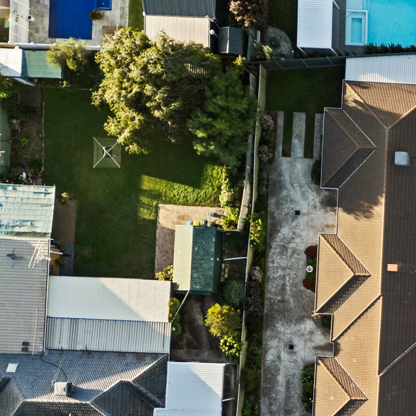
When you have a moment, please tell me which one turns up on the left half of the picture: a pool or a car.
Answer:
pool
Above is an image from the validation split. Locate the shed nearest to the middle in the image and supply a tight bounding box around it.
[172,225,230,293]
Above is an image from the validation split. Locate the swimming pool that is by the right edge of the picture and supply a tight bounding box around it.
[346,0,416,47]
